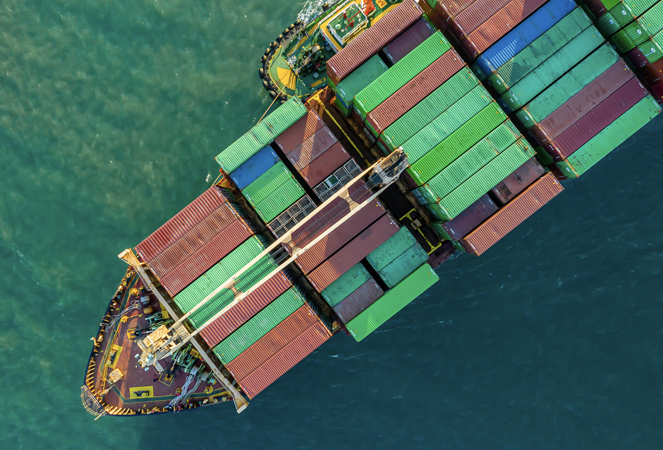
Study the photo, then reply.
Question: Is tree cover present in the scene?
No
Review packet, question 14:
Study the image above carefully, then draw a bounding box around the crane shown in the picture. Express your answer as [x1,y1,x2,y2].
[128,148,410,377]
